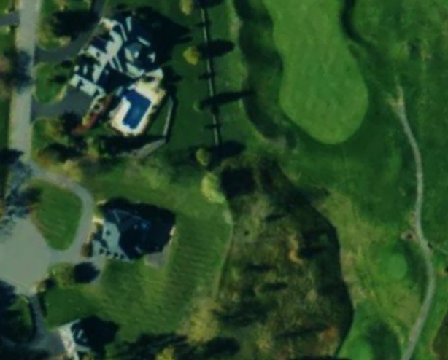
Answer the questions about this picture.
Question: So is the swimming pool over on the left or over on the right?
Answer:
left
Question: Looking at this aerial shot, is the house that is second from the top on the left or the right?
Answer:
left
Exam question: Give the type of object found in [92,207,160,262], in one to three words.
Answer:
house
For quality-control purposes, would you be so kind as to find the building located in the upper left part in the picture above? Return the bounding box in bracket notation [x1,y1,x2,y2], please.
[70,18,153,97]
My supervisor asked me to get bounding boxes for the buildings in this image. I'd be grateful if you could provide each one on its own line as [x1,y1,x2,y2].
[70,18,153,97]
[92,207,160,262]
[60,322,93,360]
